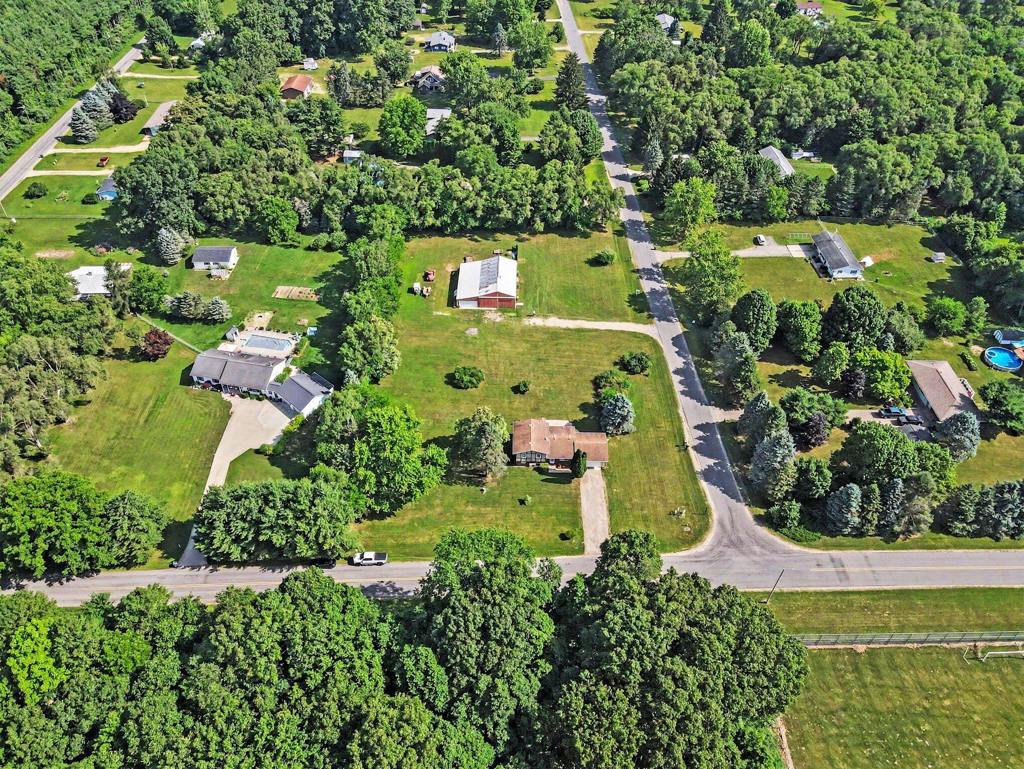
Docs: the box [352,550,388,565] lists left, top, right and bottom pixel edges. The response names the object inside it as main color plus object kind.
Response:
white vehicle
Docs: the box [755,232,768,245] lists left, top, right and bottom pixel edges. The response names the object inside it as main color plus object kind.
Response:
white vehicle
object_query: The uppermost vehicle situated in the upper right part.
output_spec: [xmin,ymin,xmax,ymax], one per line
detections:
[789,146,811,160]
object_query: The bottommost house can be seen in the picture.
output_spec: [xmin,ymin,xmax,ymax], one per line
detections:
[512,419,609,475]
